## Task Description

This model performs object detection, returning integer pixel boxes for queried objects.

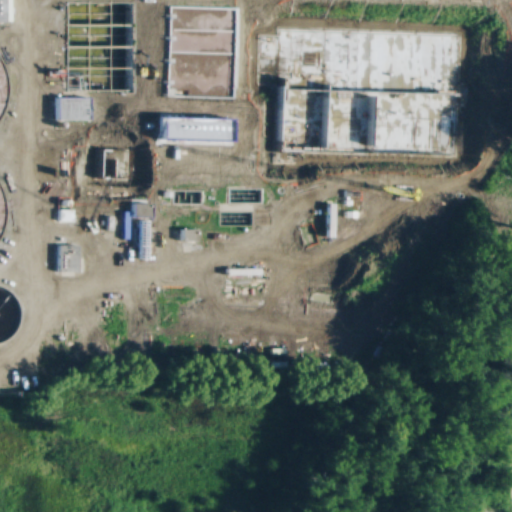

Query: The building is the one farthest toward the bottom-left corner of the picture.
[57,246,82,274]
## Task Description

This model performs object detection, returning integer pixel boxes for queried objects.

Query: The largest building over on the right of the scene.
[322,201,338,242]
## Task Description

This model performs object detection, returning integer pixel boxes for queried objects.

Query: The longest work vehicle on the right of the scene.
[382,186,420,205]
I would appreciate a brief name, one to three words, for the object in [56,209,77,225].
shed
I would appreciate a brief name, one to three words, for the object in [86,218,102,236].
vehicle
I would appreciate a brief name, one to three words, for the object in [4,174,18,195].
vehicle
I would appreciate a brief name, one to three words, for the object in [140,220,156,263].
building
